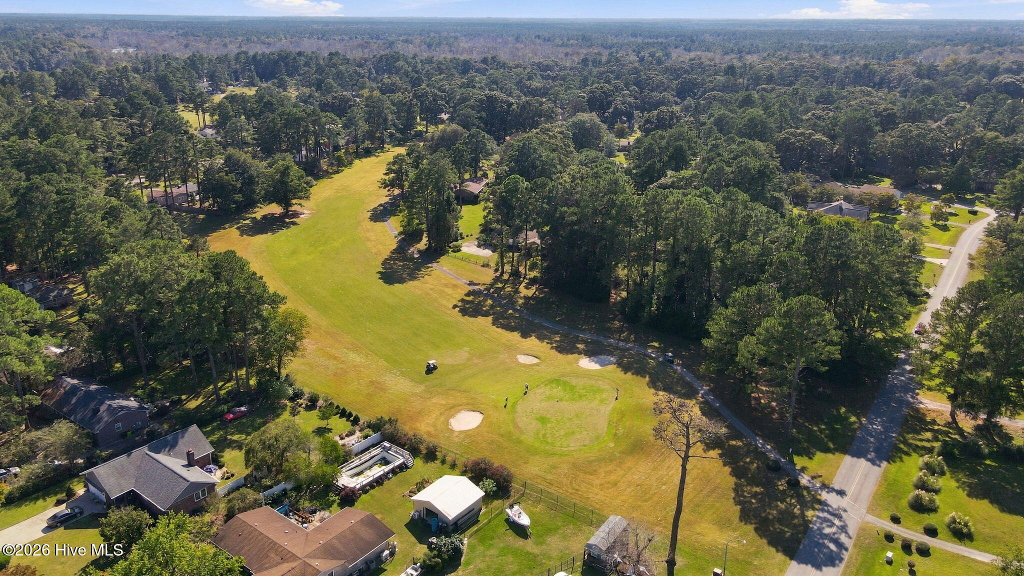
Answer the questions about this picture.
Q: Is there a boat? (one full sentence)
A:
Yes, looking at the shot, I can spot a boat.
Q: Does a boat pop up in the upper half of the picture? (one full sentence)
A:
No, I see no boat in the upper half of the picture.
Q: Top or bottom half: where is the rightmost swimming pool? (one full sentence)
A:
The bottom half of the photo is where the rightmost swimming pool is.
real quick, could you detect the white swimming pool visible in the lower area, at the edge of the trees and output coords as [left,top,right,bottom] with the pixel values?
[329,439,412,497]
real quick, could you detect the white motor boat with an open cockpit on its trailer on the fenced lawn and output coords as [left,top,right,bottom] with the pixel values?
[499,500,533,534]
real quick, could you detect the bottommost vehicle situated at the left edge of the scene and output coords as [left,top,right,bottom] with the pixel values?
[44,506,85,528]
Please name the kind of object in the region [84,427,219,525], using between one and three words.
house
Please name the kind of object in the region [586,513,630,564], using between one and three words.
shed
